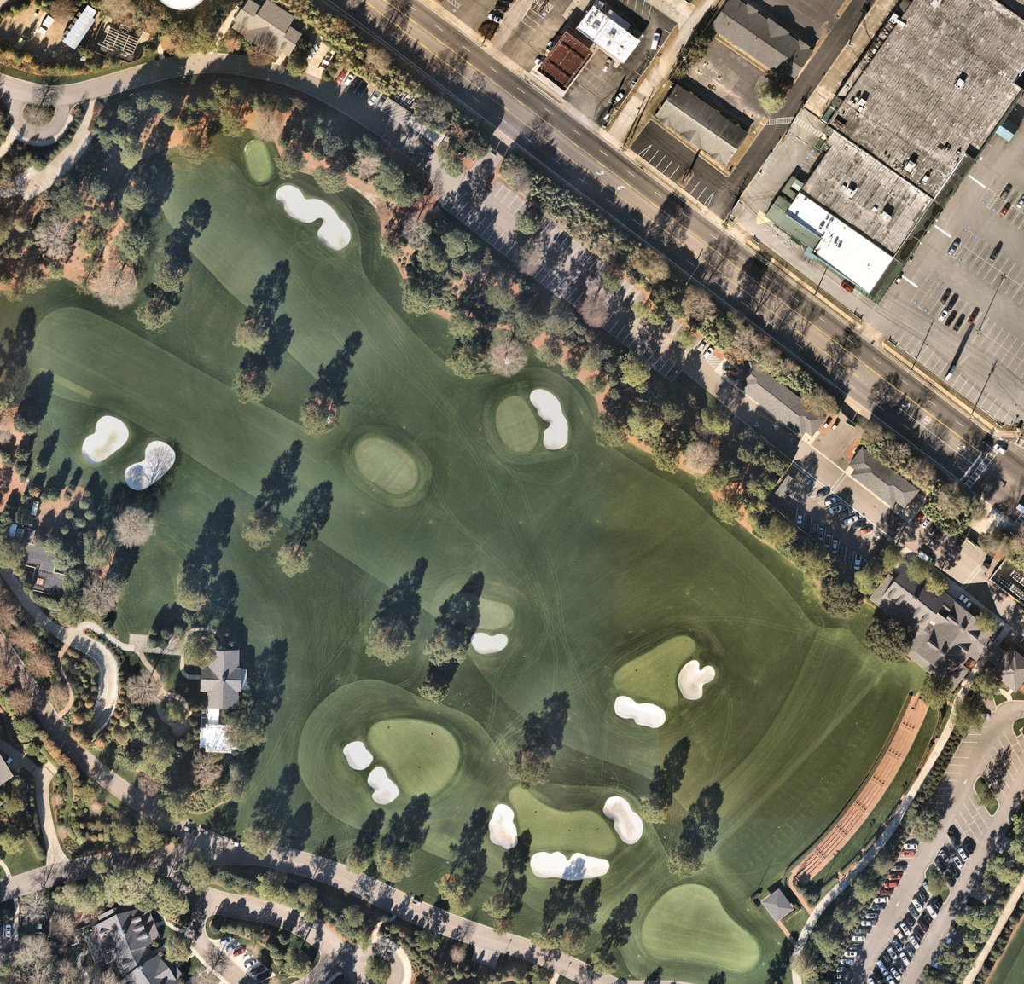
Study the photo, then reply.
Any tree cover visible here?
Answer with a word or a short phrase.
Yes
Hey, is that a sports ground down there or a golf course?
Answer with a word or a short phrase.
golf course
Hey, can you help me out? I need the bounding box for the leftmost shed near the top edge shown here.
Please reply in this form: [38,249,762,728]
[61,3,99,49]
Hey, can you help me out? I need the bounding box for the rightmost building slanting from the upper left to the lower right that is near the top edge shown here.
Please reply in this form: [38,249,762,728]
[710,0,819,84]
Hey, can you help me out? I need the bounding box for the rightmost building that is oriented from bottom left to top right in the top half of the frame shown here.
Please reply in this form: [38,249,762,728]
[766,0,1024,304]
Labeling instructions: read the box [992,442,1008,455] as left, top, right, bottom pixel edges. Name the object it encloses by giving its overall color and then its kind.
white vehicle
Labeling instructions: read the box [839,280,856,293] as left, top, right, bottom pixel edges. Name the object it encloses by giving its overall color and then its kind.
red vehicle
